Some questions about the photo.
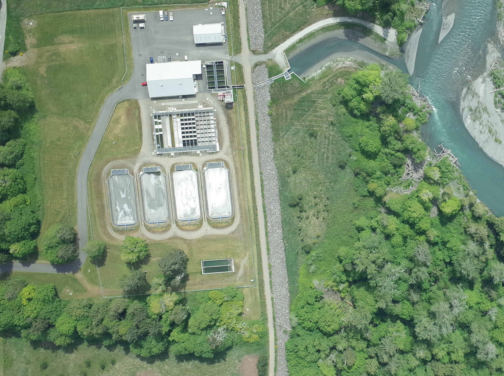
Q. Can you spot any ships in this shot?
No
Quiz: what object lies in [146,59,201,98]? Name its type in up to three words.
building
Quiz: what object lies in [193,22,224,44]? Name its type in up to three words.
building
